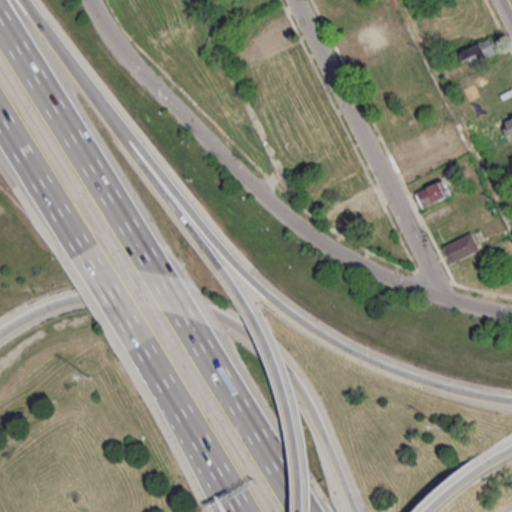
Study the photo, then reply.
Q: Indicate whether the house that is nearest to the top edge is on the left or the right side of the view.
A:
right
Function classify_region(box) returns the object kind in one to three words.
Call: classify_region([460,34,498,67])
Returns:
house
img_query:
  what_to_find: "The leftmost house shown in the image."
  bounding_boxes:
[415,182,454,209]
